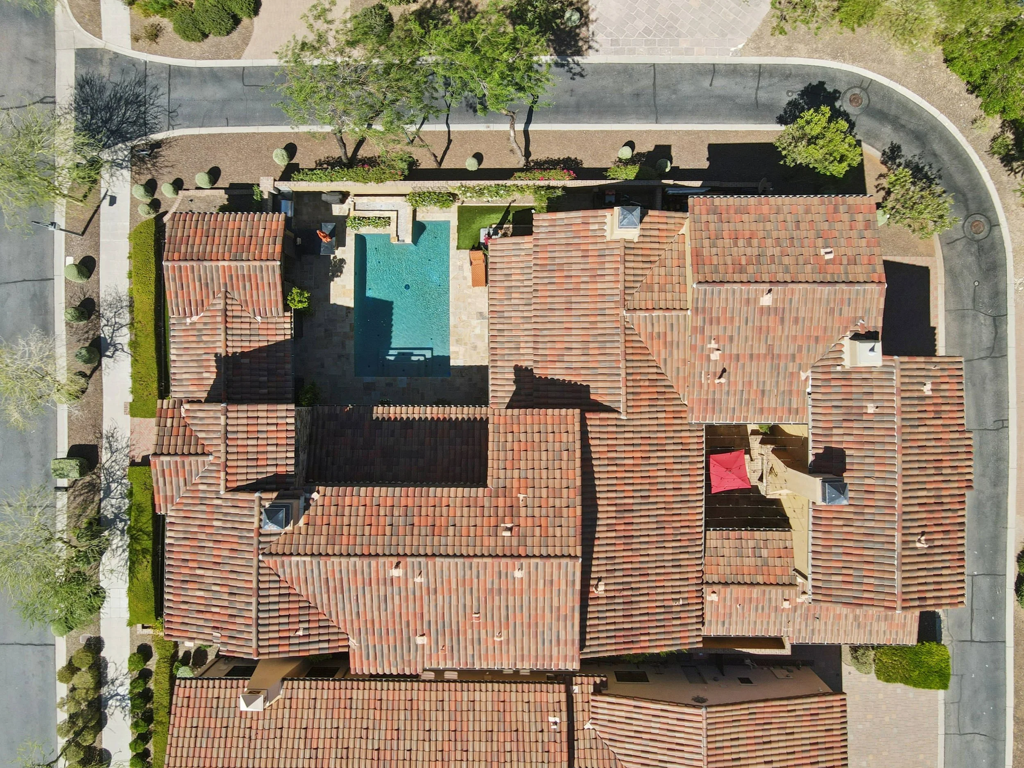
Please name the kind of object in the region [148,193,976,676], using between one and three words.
house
